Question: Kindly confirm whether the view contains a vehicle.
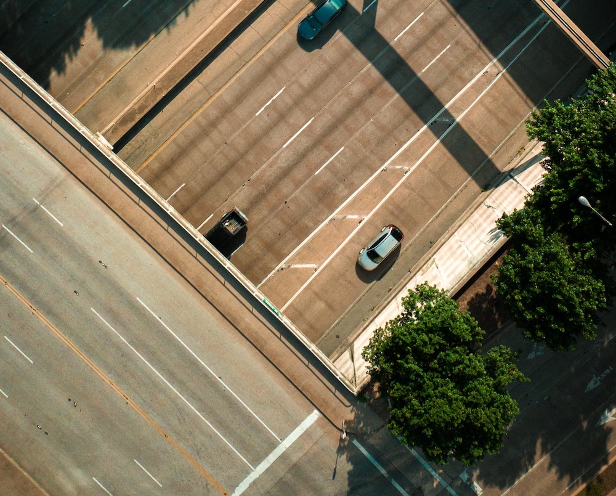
Yes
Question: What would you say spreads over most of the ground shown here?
paved ground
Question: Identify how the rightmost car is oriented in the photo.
at an angle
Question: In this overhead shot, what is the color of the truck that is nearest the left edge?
black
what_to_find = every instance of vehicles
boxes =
[199,205,251,256]
[301,0,349,40]
[361,225,405,270]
